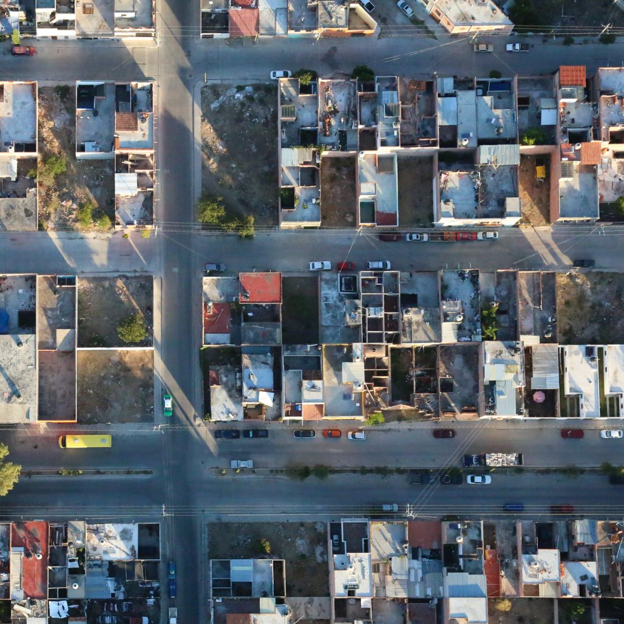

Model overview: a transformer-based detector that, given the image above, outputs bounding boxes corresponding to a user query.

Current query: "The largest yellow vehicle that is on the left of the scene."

[59,433,112,448]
